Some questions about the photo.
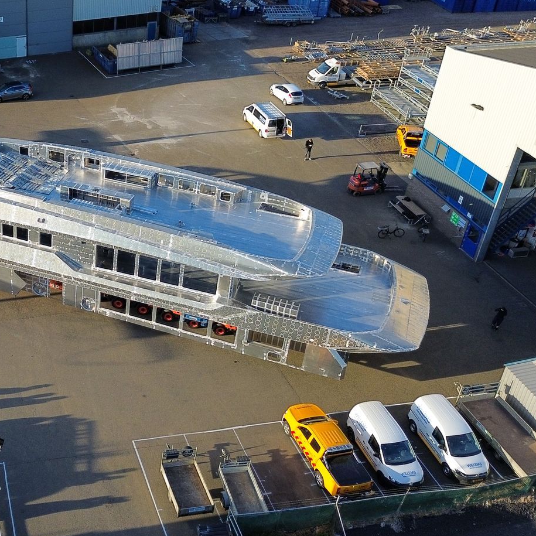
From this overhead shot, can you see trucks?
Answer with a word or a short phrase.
Yes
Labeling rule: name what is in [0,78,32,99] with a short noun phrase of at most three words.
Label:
car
